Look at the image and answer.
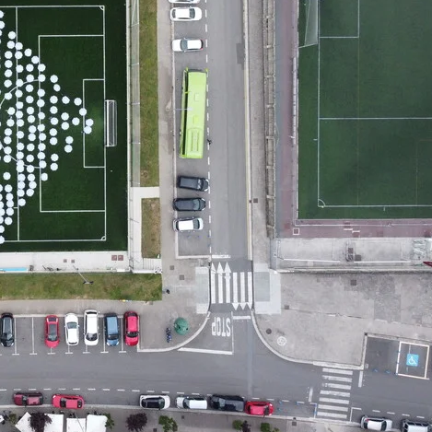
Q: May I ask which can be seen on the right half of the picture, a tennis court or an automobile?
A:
automobile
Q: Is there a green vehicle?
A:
Yes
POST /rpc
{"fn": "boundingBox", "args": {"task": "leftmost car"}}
[0,312,15,348]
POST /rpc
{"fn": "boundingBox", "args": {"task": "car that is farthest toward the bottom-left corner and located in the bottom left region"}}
[13,391,43,408]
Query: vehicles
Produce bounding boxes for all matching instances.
[169,6,202,22]
[65,312,79,346]
[358,415,393,432]
[172,217,203,233]
[123,311,139,346]
[209,394,244,411]
[172,197,205,213]
[179,67,209,158]
[244,399,274,416]
[176,176,209,192]
[13,391,43,408]
[175,394,207,411]
[51,393,84,410]
[399,419,432,432]
[170,37,203,53]
[104,312,120,346]
[44,313,60,347]
[0,312,15,348]
[138,394,169,411]
[83,309,99,346]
